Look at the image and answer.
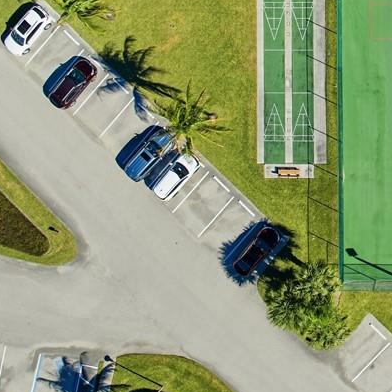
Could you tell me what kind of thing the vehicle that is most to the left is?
car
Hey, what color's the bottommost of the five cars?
black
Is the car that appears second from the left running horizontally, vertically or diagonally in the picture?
diagonally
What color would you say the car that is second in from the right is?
white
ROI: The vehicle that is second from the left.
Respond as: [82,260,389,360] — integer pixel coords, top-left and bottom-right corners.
[47,58,97,109]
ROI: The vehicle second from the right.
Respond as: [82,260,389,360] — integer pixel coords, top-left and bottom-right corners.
[153,153,201,204]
